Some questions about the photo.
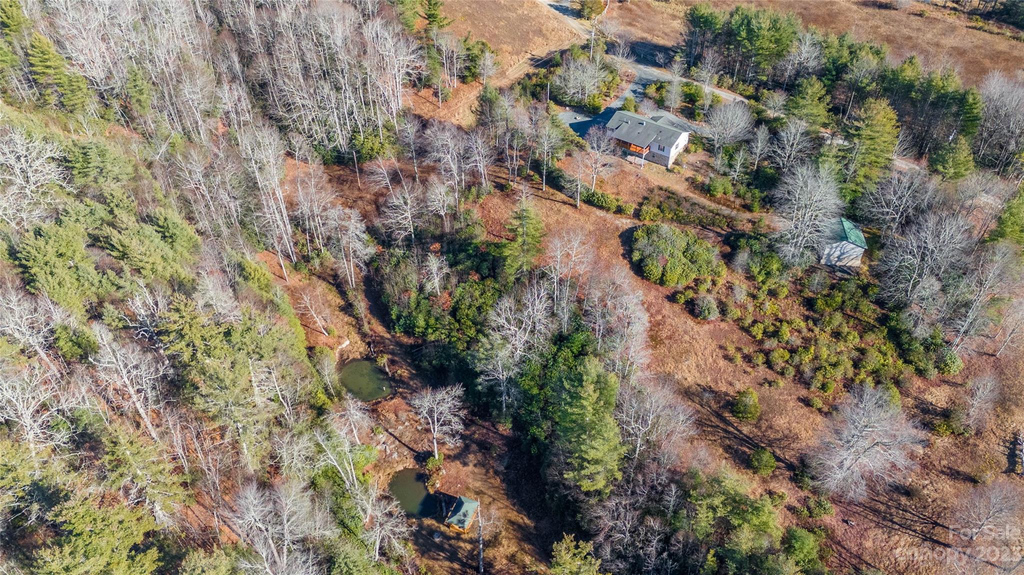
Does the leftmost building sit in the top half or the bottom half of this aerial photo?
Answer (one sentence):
You can find the leftmost building in the bottom half.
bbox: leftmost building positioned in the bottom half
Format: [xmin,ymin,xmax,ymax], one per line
[446,495,479,539]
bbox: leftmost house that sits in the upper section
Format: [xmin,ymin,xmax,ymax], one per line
[606,109,691,167]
